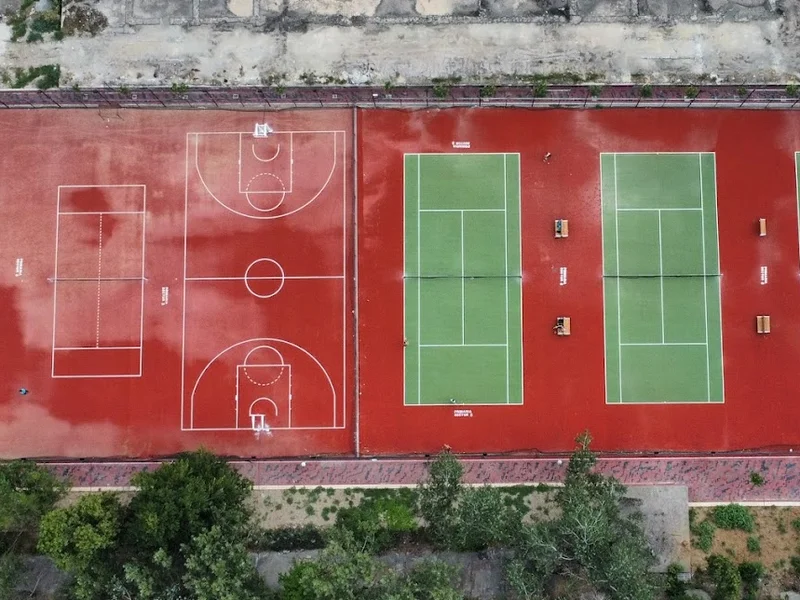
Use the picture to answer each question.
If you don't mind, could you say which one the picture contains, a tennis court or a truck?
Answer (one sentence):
I can see a tennis court in this picture.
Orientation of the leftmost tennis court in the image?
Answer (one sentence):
The leftmost tennis court is oriented up and down.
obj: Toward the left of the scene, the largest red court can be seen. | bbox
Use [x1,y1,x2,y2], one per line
[181,131,345,429]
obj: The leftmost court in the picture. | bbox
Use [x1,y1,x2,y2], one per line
[52,185,146,377]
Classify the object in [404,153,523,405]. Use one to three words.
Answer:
tennis court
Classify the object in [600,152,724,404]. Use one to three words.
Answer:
tennis court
